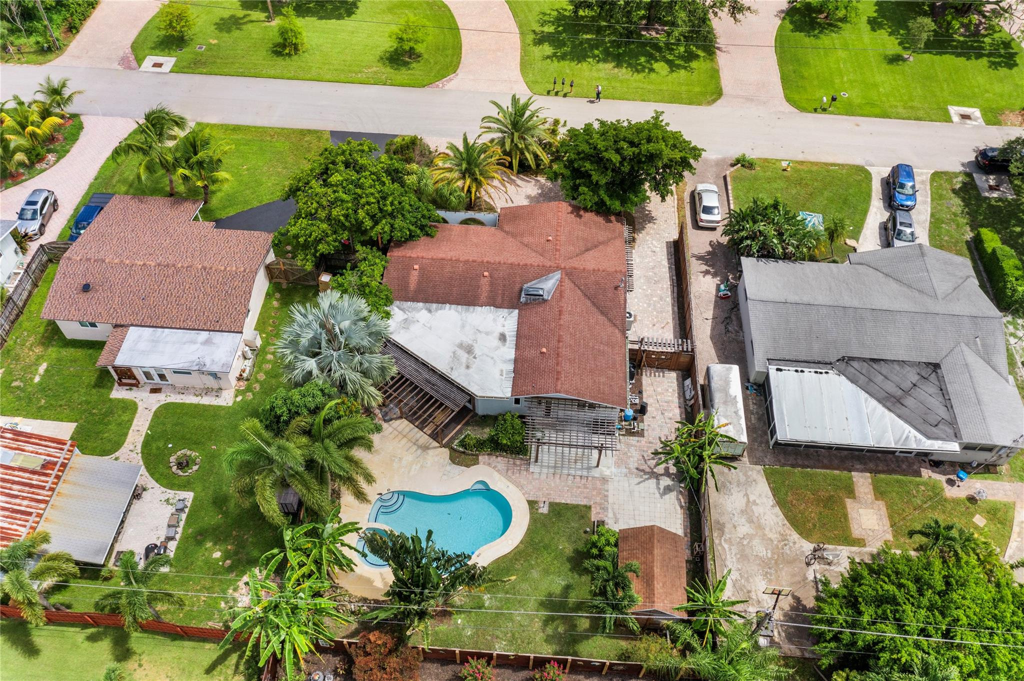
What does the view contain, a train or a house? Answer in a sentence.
The image shows a house.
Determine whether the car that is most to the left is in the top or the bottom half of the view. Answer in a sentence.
You can find the car that is most to the left in the top half.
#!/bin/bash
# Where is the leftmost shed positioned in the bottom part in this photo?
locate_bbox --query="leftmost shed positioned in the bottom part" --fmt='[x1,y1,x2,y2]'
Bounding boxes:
[0,429,82,534]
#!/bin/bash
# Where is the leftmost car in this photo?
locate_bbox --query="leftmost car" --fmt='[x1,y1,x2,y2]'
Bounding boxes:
[13,188,58,240]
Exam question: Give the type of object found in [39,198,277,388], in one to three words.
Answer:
house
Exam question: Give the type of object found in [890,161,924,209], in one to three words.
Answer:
car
